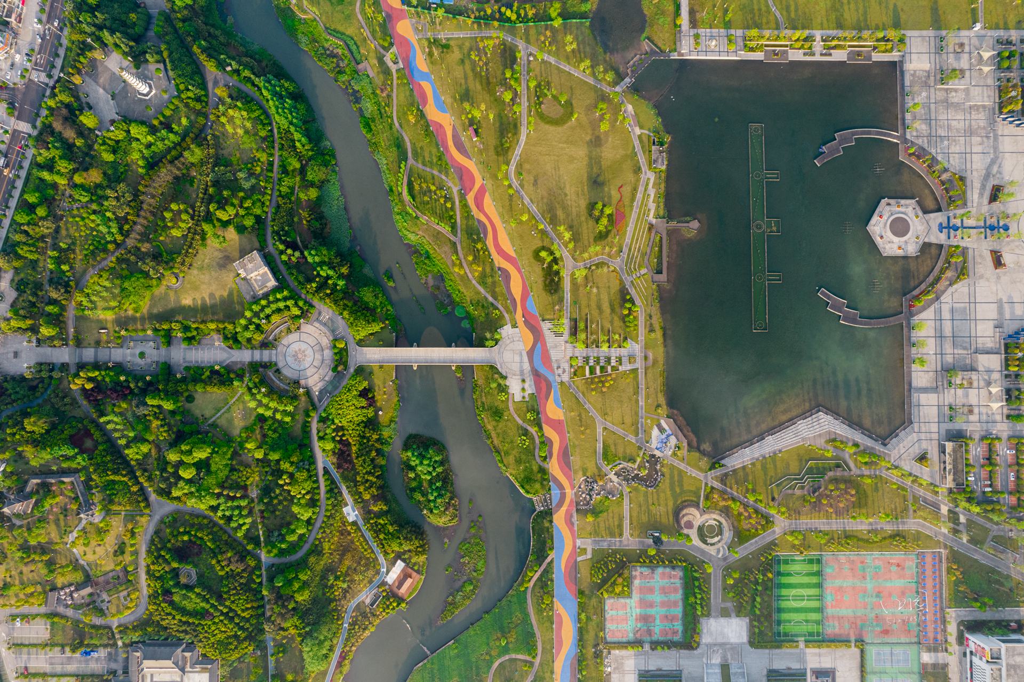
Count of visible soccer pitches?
1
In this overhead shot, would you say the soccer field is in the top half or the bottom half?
bottom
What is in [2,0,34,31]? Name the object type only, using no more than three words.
building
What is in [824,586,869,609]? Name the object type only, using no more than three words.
basketball court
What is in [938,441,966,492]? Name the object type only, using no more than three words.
building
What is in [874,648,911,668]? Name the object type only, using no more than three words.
tennis court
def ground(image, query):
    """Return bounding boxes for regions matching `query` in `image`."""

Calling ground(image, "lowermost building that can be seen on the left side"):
[108,634,221,682]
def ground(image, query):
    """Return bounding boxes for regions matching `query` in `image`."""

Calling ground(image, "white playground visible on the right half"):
[651,419,678,456]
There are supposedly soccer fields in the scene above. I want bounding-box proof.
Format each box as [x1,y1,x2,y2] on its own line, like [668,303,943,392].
[773,554,824,641]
